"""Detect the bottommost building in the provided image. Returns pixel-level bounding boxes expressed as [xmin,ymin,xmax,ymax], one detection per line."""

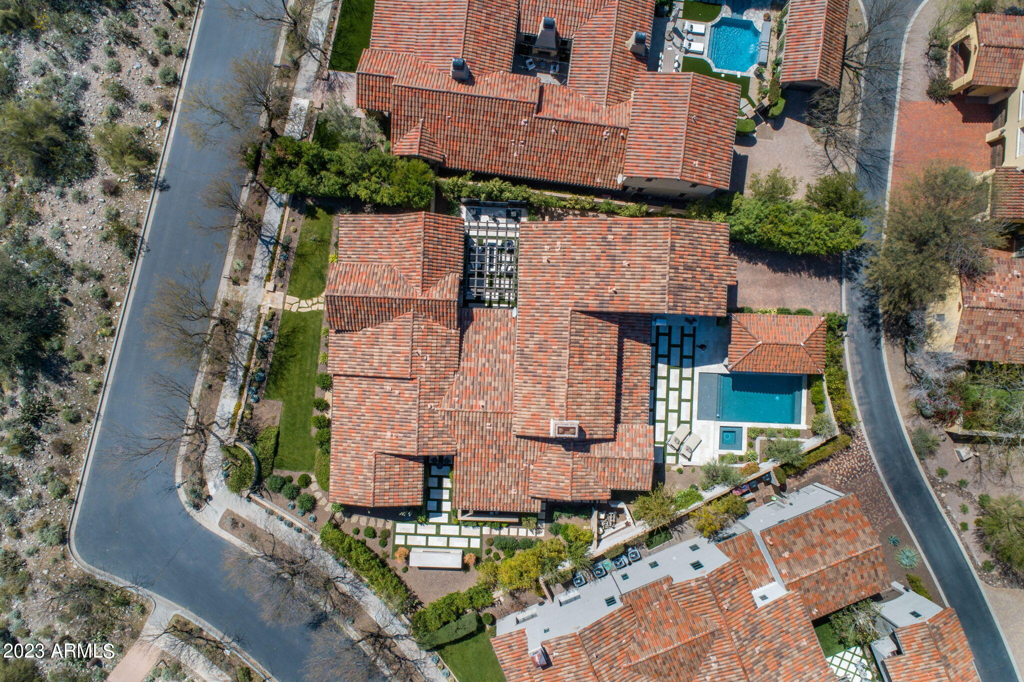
[491,482,982,682]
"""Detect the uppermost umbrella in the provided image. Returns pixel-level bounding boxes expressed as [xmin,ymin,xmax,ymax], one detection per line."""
[664,10,676,40]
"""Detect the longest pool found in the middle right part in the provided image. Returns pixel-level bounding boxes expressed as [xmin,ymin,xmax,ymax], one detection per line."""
[697,373,803,424]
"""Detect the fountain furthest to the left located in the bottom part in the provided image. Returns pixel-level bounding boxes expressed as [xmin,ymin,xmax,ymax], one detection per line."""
[410,549,463,568]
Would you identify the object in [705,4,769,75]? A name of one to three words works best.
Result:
swimming pool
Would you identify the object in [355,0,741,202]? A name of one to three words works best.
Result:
house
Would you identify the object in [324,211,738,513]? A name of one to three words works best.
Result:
house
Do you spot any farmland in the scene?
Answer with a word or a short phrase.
No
